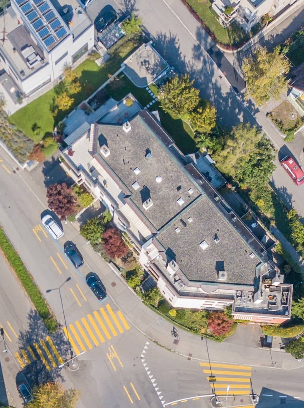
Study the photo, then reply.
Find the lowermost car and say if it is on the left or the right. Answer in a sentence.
It is on the left.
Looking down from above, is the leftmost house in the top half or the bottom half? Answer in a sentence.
The leftmost house sits in the top half of the picture.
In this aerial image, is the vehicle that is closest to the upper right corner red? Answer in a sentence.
Yes, the vehicle that is closest to the upper right corner is indeed red.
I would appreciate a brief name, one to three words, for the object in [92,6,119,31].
car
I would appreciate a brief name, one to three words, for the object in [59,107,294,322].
house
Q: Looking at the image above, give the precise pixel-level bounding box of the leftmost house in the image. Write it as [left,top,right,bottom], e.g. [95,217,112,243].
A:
[0,0,92,96]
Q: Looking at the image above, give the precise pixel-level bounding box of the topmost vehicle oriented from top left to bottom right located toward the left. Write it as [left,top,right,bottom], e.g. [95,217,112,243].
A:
[40,210,65,243]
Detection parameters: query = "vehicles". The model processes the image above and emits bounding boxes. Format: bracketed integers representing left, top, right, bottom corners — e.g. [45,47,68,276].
[277,155,304,187]
[92,6,119,31]
[62,239,84,269]
[16,379,37,406]
[40,210,65,243]
[84,270,109,303]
